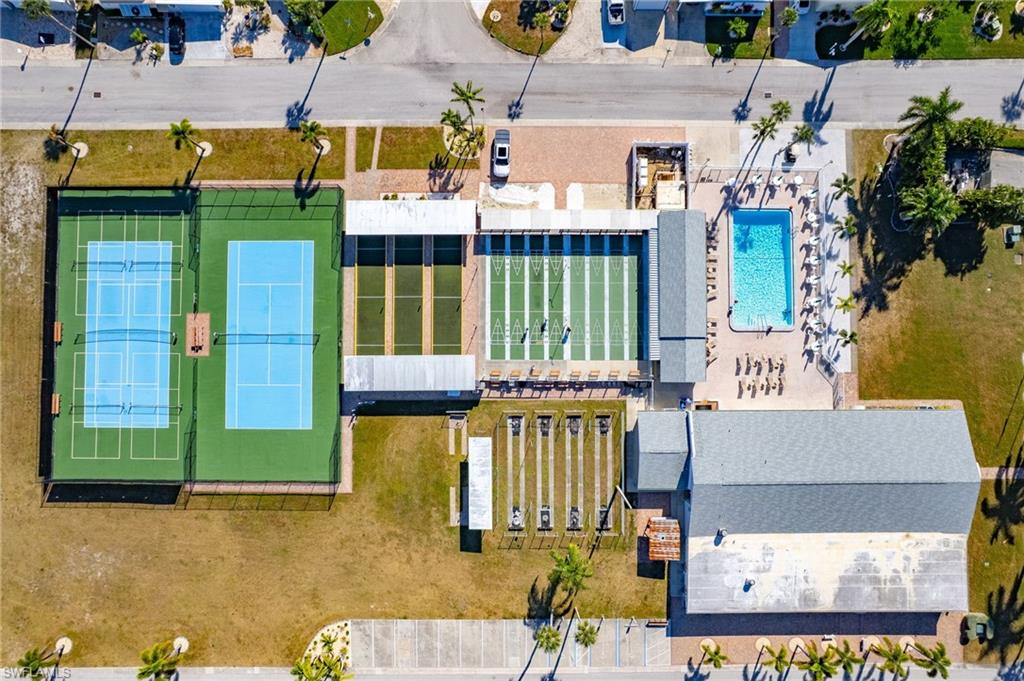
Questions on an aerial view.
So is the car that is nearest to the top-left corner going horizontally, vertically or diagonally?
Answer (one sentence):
What the image shows is the car that is nearest to the top-left corner lying vertically.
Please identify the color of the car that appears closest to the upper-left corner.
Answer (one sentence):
The car that appears closest to the upper-left corner is black.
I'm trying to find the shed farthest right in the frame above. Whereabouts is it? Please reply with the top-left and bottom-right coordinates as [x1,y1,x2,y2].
[977,150,1024,198]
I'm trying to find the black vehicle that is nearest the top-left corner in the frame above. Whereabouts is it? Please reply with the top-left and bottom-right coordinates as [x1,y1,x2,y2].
[166,13,186,53]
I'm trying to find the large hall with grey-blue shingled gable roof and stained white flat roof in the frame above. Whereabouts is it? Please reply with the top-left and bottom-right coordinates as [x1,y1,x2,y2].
[684,409,984,614]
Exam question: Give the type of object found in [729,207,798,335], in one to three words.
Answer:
swimming pool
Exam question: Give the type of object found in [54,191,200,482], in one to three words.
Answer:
tennis court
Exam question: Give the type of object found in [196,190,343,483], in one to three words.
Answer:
tennis court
